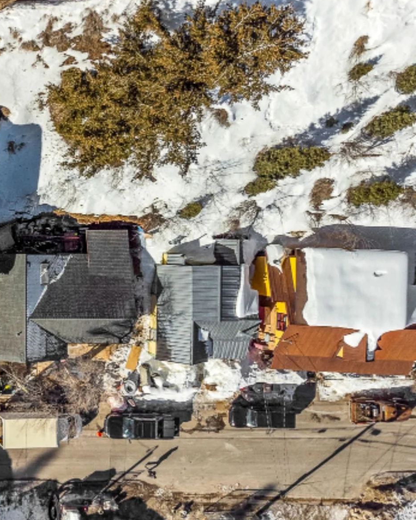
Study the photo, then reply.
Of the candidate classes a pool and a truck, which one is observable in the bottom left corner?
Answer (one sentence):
What appears in the bottom left corner is a truck.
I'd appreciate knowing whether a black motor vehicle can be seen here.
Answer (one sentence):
Yes, looking at the shot, I can spot a black motor vehicle.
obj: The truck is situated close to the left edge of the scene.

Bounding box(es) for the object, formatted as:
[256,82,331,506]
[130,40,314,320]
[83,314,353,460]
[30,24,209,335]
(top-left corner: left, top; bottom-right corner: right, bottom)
[0,414,77,450]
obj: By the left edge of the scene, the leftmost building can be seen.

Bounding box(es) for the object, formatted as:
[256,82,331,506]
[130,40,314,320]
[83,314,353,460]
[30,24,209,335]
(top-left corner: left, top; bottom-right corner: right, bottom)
[0,230,137,364]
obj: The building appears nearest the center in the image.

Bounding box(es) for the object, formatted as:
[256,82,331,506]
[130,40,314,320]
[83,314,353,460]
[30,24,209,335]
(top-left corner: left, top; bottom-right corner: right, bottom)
[144,239,261,365]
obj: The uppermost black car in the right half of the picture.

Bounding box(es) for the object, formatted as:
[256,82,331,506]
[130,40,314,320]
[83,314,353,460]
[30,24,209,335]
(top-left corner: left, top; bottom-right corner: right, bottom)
[227,401,299,434]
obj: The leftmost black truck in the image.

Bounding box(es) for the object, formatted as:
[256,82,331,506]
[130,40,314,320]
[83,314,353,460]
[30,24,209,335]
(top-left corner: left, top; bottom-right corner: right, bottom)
[105,411,181,445]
